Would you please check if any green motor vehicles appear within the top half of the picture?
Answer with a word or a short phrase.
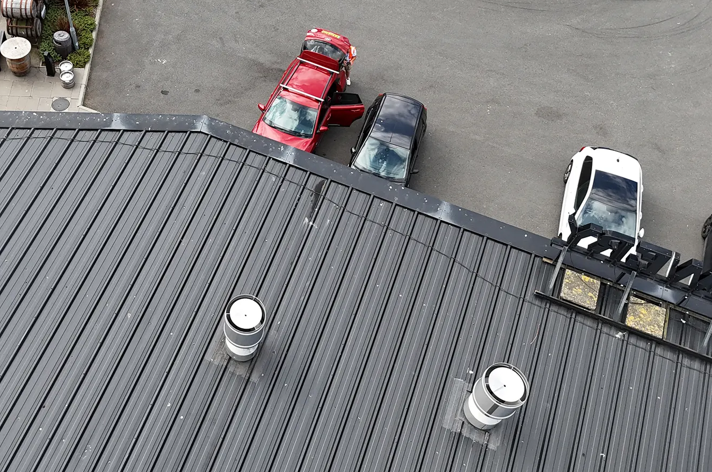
No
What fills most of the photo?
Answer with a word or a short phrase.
buildings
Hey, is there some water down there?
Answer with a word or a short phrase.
No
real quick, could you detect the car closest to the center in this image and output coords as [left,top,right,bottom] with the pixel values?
[344,88,432,194]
